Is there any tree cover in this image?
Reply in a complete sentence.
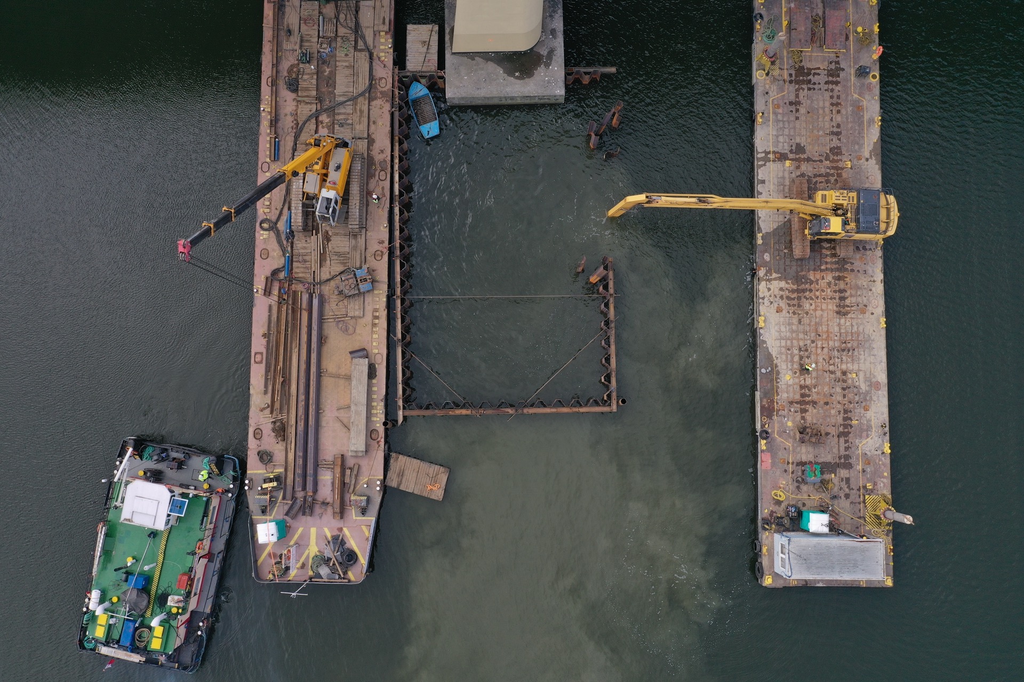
No, no tree cover is visible.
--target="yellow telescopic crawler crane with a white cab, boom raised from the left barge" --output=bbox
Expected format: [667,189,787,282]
[176,133,366,312]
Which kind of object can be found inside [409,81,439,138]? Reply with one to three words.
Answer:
boat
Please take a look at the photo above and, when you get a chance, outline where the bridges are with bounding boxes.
[445,0,564,104]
